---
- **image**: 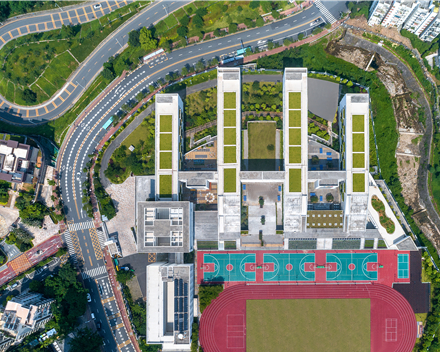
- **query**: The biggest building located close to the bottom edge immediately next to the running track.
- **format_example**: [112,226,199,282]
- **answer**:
[146,263,193,343]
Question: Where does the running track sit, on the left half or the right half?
right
